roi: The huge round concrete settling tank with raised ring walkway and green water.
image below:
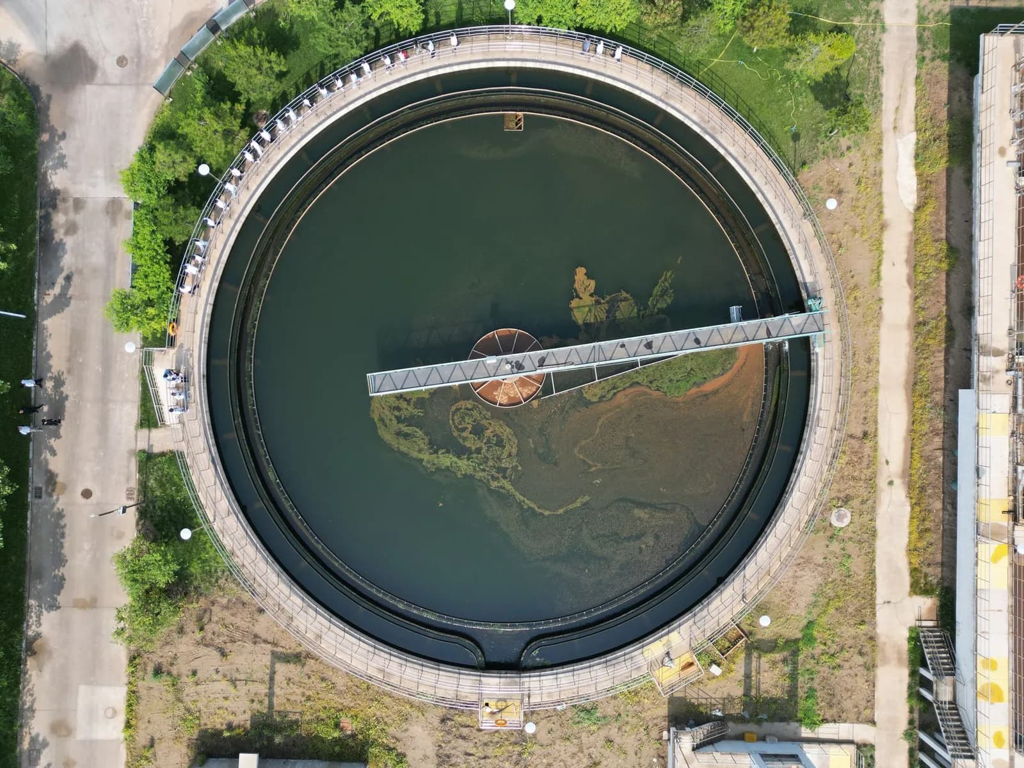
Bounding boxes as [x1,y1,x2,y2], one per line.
[152,33,841,719]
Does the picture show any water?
Yes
